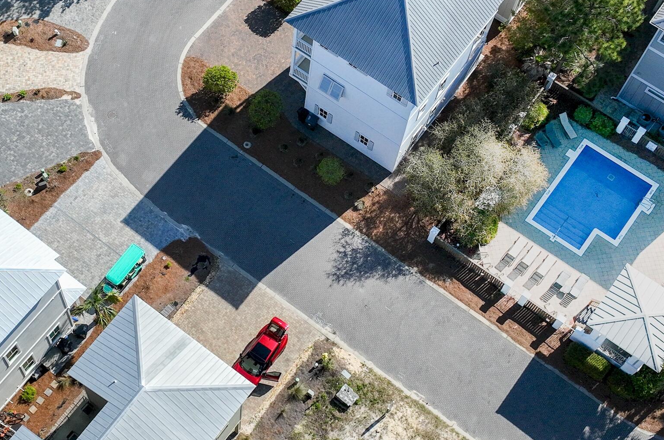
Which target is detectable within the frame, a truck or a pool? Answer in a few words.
pool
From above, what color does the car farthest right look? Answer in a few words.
red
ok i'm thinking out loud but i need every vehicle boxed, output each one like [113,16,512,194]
[102,243,147,300]
[232,313,290,387]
